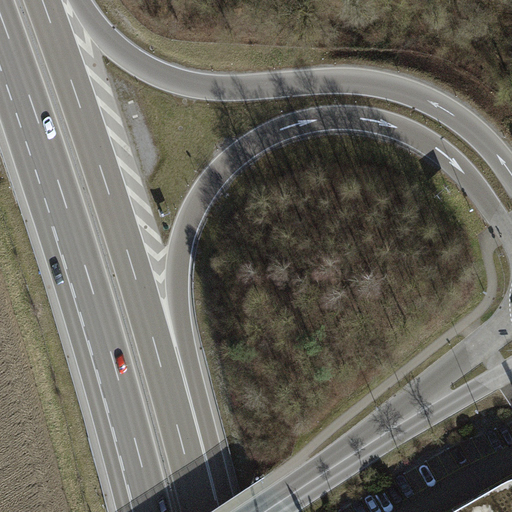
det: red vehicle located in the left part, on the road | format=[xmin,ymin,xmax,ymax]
[115,354,128,375]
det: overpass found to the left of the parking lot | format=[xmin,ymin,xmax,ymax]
[212,454,332,512]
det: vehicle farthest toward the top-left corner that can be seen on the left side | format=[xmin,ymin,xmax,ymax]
[42,116,56,140]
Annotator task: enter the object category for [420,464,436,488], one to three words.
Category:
car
